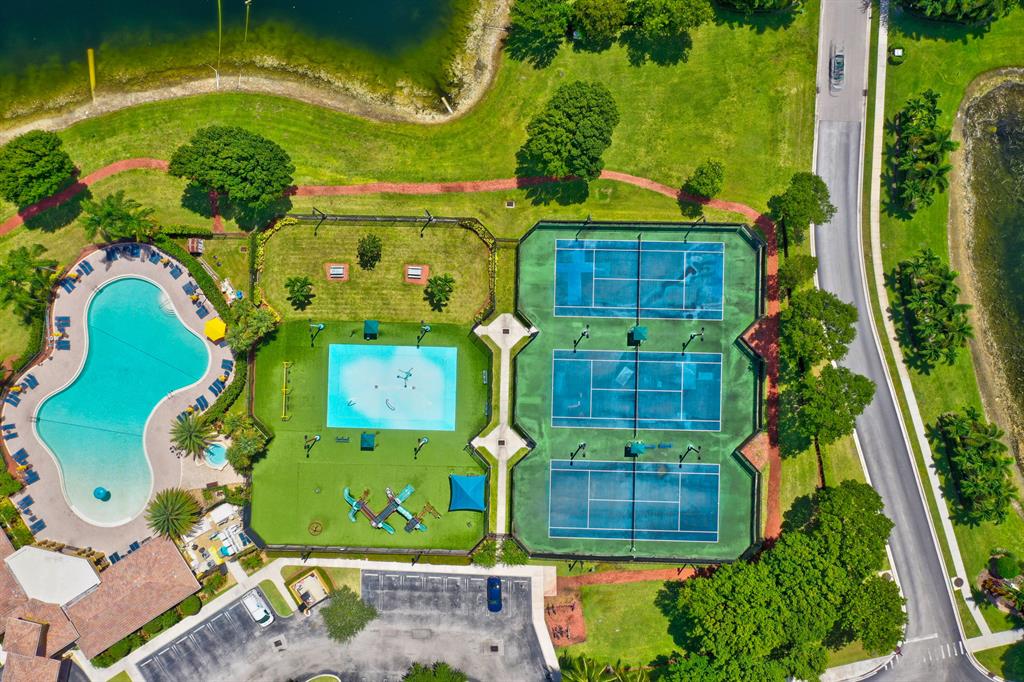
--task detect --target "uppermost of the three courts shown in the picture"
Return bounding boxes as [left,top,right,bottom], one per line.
[554,233,725,325]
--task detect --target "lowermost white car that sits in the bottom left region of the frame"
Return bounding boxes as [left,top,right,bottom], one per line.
[239,590,271,628]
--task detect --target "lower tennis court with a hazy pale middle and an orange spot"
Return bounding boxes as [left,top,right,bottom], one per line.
[549,455,720,549]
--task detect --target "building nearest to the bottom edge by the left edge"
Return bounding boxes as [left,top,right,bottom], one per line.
[0,517,200,682]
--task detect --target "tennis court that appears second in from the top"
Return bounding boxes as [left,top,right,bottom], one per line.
[551,345,722,437]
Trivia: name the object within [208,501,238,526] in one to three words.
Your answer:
shed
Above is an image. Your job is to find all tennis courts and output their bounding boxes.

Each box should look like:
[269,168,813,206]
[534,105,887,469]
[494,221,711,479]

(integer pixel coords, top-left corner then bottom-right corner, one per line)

[551,345,722,437]
[549,455,720,549]
[554,233,725,325]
